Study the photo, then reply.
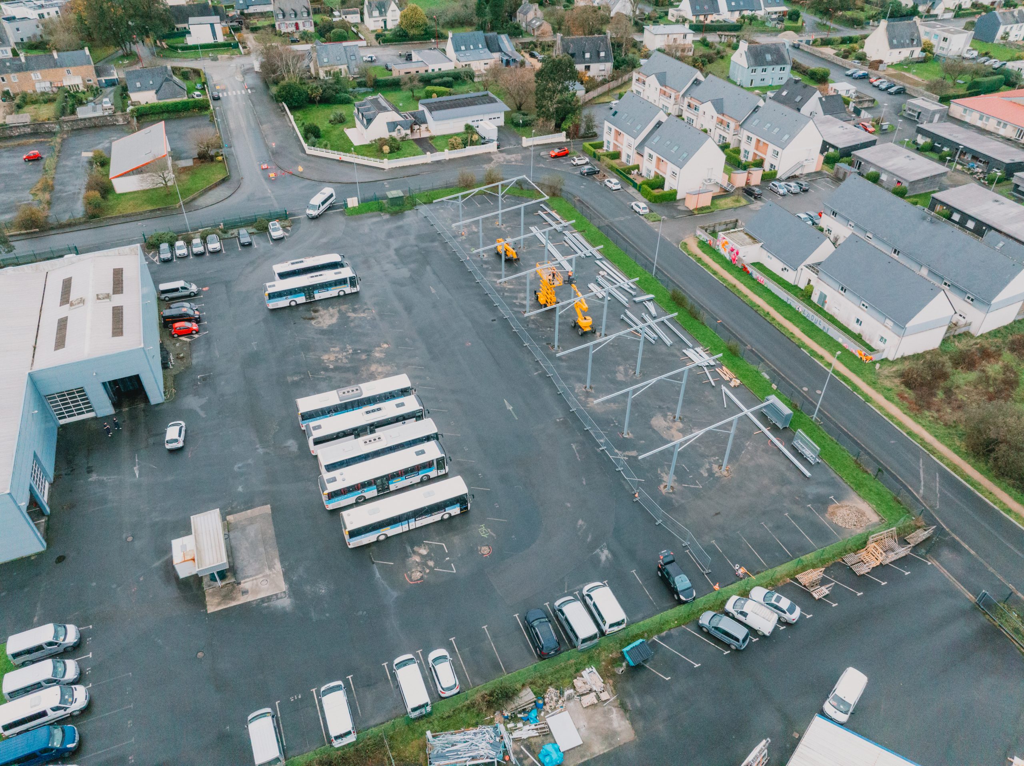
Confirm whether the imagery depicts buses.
Yes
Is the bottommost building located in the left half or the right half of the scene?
right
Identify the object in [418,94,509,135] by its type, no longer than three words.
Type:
building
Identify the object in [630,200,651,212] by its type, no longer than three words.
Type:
vehicle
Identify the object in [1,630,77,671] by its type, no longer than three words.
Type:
vehicle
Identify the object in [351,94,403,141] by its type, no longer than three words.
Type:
house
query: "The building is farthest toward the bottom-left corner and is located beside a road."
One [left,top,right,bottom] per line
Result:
[0,234,164,560]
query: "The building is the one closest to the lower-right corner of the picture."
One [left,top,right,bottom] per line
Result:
[797,712,924,766]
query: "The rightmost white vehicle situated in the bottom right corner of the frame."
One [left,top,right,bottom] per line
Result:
[830,659,872,718]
